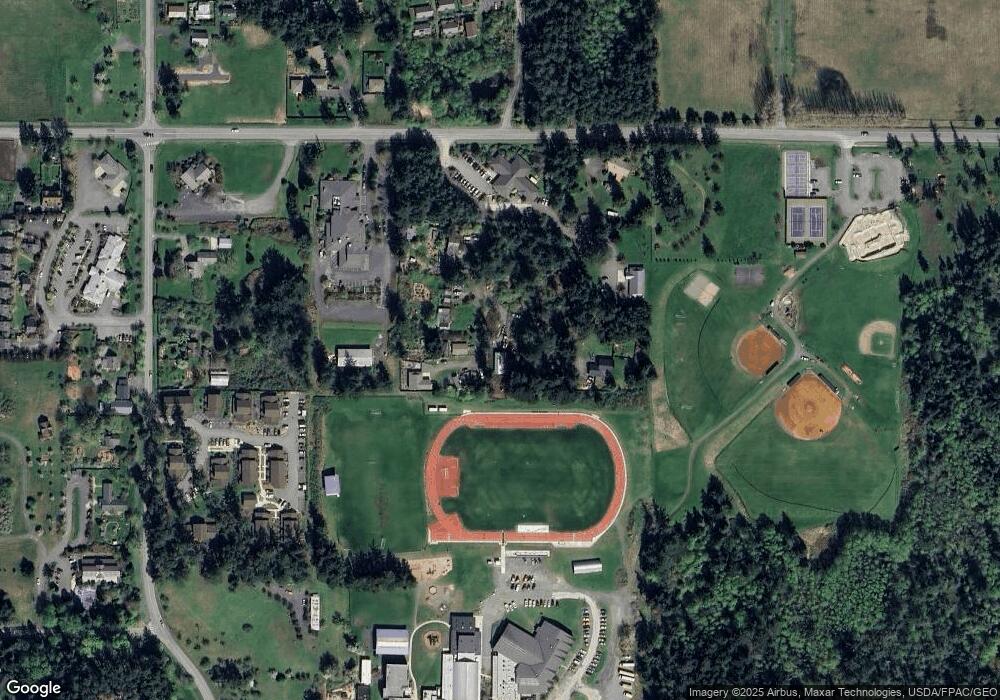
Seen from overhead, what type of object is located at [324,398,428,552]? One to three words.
soccer field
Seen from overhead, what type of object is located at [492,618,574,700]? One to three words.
building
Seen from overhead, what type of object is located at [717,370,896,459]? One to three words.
baseball field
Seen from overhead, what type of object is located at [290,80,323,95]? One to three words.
house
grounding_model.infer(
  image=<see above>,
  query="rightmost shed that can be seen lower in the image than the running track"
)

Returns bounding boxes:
[573,561,602,574]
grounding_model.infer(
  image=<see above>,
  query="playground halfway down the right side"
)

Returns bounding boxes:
[775,289,800,329]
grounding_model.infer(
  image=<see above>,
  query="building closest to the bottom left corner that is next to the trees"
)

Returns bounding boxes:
[80,557,119,584]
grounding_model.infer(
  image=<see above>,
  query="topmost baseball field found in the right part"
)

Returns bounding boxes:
[685,274,720,307]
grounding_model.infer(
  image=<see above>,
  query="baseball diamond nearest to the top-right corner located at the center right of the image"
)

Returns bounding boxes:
[859,322,896,359]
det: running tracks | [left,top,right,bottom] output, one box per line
[426,413,627,547]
